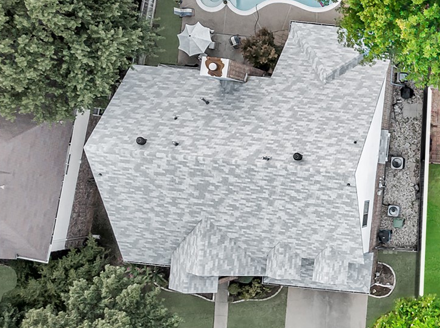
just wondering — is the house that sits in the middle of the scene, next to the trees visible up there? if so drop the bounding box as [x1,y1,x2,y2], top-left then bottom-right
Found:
[85,20,392,295]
